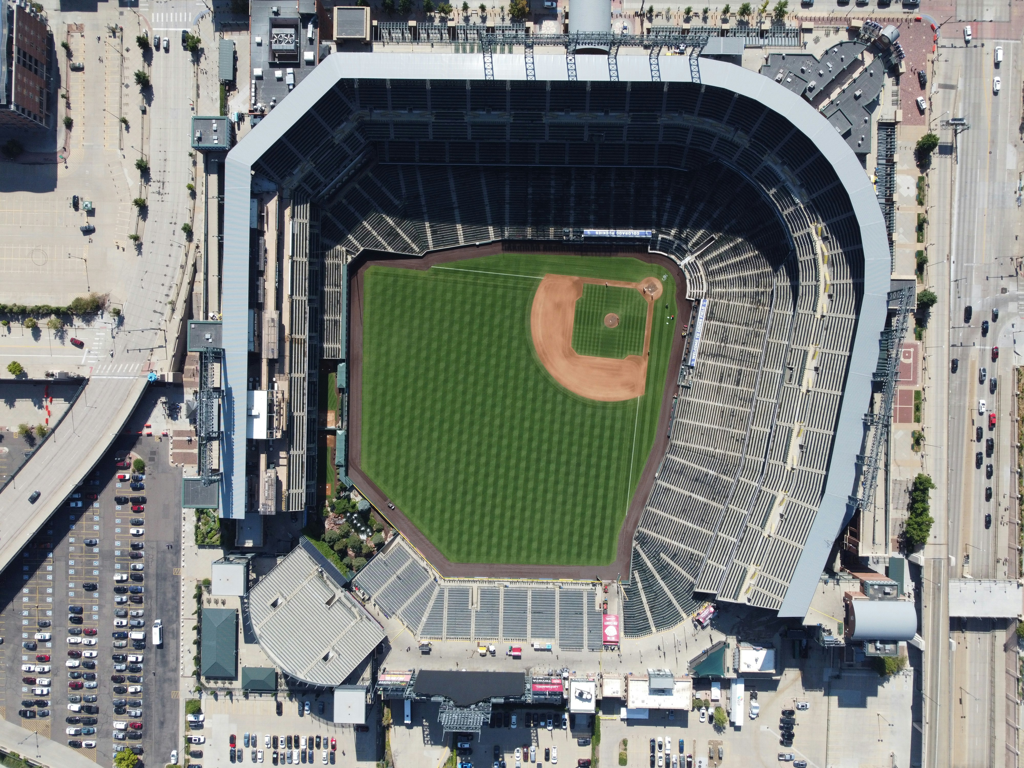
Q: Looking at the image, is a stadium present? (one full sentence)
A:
Yes, the photo shows a stadium.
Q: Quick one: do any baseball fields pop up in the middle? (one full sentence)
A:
Yes, in the middle there is a baseball field.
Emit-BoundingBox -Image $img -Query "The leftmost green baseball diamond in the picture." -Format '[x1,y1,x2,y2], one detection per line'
[344,238,700,581]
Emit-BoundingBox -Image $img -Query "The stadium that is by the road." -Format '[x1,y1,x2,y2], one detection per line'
[219,52,891,638]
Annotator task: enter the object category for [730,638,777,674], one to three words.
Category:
building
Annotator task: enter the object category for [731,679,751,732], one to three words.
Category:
trailer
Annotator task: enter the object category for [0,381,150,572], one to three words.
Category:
overpass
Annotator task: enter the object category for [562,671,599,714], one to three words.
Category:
building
